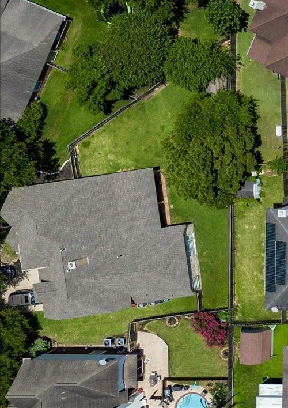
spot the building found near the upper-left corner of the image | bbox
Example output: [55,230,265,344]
[0,0,74,123]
